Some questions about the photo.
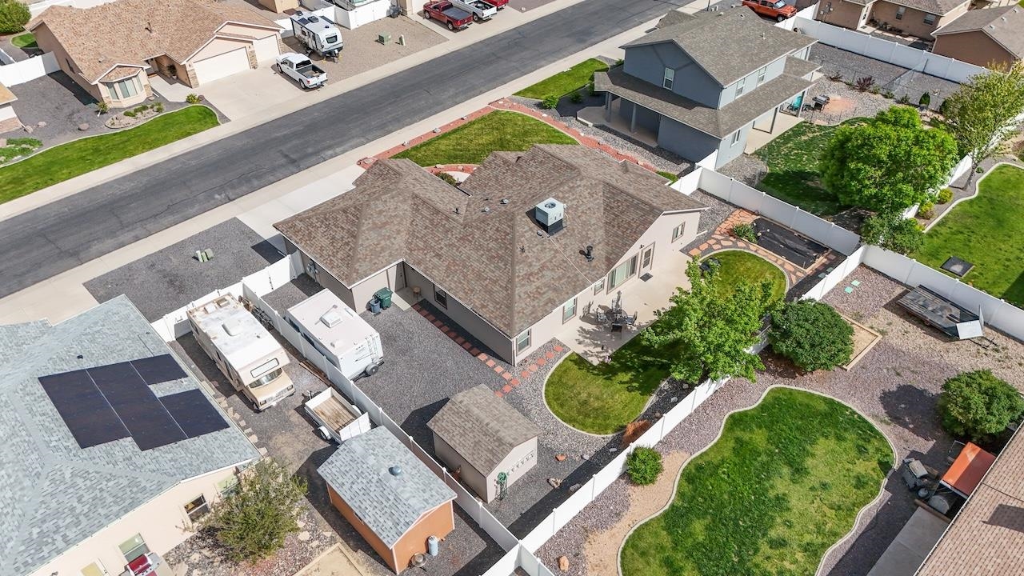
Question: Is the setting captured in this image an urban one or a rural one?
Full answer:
The area is urban.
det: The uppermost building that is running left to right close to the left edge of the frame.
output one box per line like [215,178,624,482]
[21,0,284,107]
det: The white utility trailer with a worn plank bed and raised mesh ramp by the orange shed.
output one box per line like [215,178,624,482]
[304,380,366,440]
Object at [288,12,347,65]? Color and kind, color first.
white trailer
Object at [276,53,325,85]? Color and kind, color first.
white truck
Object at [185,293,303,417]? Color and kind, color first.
white camper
